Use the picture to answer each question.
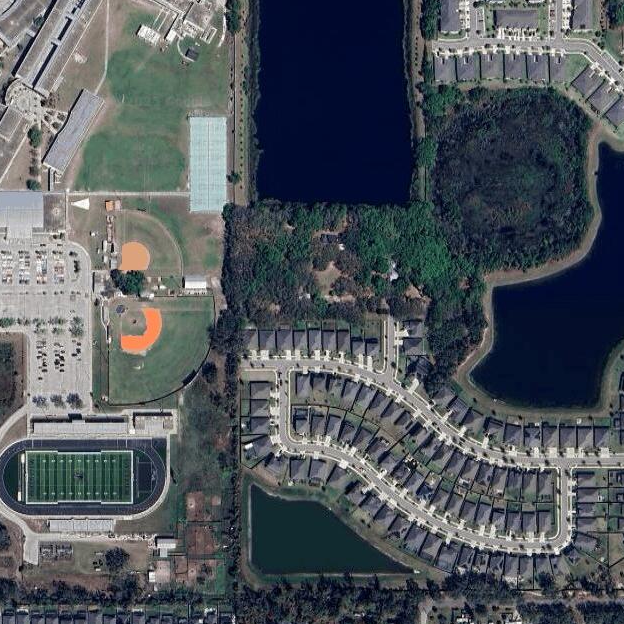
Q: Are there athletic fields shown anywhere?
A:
Yes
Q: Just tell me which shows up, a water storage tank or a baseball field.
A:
baseball field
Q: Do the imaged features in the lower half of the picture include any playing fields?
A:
Yes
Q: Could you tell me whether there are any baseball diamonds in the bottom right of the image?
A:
No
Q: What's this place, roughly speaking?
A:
residential area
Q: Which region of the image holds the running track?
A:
bottom left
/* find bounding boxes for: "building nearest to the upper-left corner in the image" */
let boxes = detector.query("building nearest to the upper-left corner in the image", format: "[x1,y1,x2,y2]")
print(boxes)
[0,0,44,45]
